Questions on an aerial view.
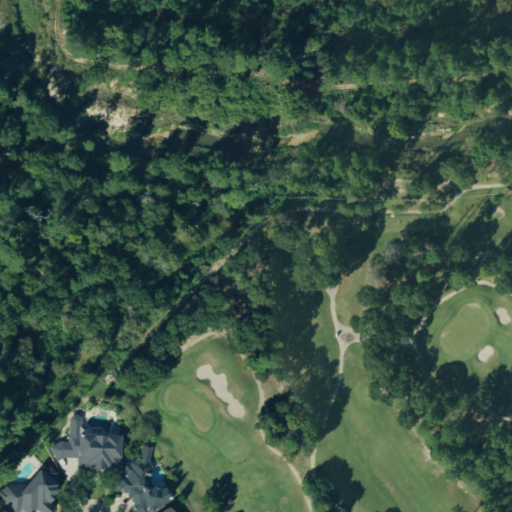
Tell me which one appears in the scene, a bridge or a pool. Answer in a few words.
pool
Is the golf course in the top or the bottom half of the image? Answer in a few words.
bottom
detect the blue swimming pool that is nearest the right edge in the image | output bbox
[150,462,168,490]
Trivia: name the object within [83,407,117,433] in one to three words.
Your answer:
swimming pool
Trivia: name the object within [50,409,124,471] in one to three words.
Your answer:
house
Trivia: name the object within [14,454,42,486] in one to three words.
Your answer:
swimming pool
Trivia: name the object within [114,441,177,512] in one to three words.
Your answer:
house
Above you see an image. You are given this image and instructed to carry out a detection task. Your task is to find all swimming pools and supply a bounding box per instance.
[83,407,117,433]
[14,454,42,486]
[150,462,168,490]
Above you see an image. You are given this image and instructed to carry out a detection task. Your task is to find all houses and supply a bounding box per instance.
[0,470,66,512]
[50,409,124,471]
[114,441,177,512]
